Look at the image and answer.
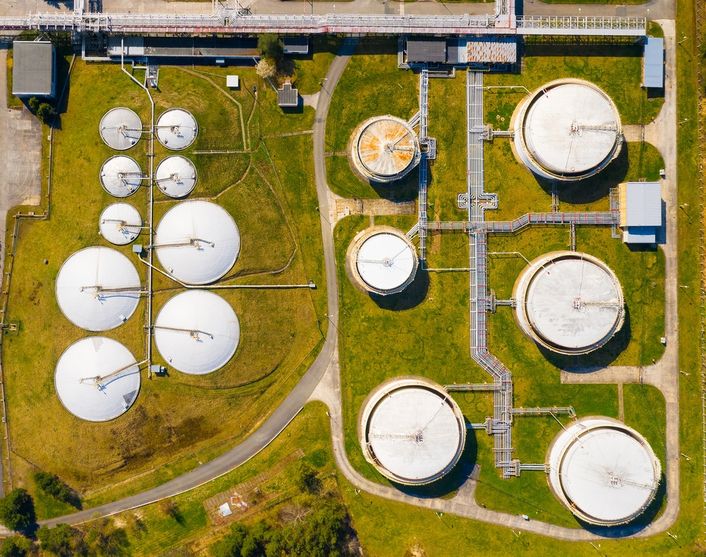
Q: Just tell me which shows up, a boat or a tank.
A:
tank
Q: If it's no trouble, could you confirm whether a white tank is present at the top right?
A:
Yes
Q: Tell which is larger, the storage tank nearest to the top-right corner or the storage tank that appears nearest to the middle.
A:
the storage tank nearest to the top-right corner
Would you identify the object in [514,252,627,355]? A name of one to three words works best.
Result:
storage tank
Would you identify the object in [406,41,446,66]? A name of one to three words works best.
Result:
building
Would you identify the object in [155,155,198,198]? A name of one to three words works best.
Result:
storage tank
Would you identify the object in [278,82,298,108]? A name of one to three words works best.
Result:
shed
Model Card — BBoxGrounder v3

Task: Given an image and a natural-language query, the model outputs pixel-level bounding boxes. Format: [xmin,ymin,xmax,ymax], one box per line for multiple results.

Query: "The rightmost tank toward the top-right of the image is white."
[511,77,627,185]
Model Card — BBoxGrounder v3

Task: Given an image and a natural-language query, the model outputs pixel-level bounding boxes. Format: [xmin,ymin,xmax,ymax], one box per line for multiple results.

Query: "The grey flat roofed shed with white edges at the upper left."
[12,41,60,100]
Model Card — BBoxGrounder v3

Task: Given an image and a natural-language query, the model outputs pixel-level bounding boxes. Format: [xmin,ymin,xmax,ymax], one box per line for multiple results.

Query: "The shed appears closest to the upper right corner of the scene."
[641,38,663,90]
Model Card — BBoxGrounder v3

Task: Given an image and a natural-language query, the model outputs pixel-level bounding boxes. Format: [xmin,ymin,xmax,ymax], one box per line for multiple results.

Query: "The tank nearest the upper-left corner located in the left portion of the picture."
[99,108,143,151]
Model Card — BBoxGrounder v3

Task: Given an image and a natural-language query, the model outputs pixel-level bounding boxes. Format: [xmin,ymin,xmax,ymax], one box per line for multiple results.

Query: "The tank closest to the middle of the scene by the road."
[346,225,422,298]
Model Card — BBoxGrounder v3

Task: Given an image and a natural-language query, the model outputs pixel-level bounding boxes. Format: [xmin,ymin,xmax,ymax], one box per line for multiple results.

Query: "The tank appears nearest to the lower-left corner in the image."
[55,336,141,422]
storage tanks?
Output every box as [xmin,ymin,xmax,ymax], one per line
[55,336,141,422]
[154,199,241,285]
[156,108,199,151]
[549,417,667,529]
[155,155,198,198]
[514,252,627,355]
[100,155,143,198]
[511,77,627,185]
[57,247,141,332]
[347,114,423,190]
[346,225,422,298]
[154,290,240,375]
[99,203,143,245]
[99,108,143,151]
[360,375,468,487]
